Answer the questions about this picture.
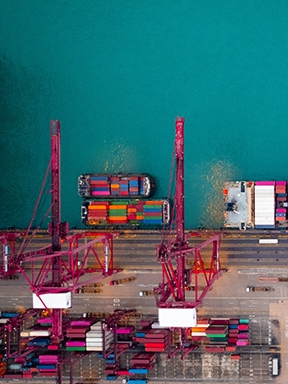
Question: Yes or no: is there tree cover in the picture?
No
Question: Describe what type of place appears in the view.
port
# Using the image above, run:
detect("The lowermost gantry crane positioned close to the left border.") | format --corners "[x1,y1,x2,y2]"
[5,311,45,359]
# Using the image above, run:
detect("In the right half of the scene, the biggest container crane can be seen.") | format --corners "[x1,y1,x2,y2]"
[153,115,229,343]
